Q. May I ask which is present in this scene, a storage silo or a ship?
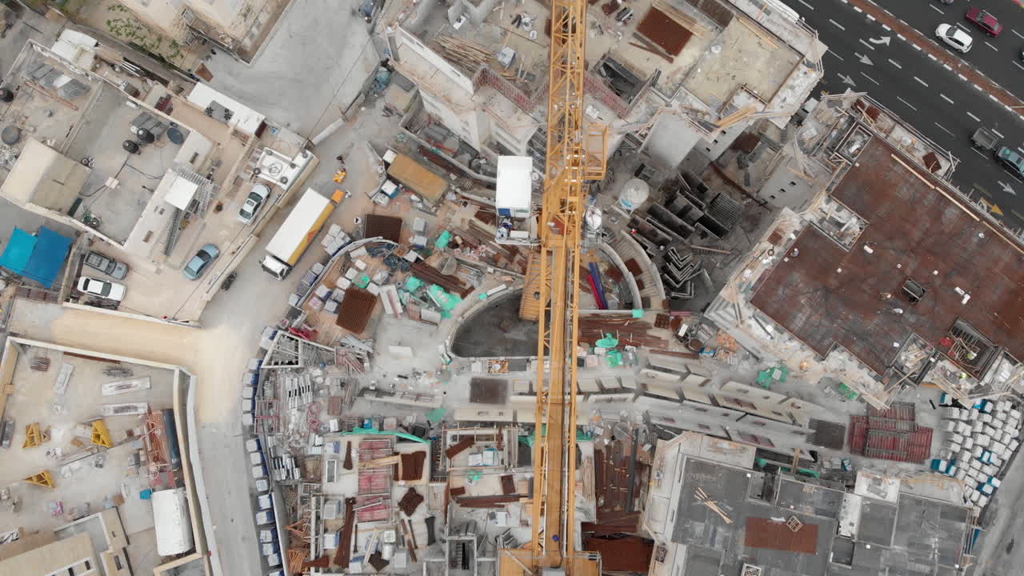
storage silo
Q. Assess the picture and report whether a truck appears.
Yes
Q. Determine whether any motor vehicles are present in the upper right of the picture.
Yes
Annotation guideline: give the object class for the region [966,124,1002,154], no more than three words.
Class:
truck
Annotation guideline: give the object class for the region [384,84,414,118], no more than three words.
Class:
shed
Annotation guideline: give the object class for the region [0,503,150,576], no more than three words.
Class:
house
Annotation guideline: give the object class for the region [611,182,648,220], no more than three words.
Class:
silo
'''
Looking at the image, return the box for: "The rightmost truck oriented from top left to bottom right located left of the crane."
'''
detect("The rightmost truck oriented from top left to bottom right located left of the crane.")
[382,145,451,204]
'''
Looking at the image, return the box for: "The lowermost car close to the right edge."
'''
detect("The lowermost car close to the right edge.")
[994,146,1024,180]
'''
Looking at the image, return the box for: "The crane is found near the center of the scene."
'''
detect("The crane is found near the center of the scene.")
[495,0,610,576]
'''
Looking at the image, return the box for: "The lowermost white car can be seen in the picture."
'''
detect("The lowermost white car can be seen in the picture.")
[76,276,129,302]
